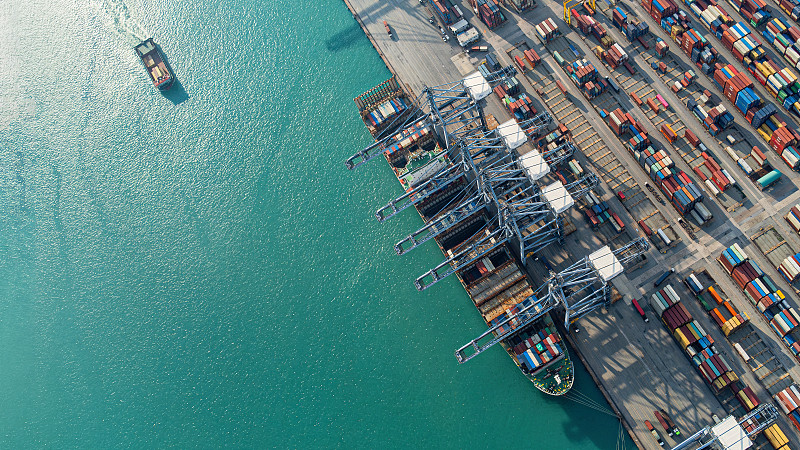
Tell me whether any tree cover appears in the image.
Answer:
No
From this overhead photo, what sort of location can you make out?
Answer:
port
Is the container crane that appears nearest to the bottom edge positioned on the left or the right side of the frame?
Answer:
right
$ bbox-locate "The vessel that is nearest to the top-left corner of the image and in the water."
[131,34,177,96]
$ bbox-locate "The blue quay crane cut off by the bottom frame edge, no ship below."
[675,402,784,450]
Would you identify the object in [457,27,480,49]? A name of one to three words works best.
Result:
building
